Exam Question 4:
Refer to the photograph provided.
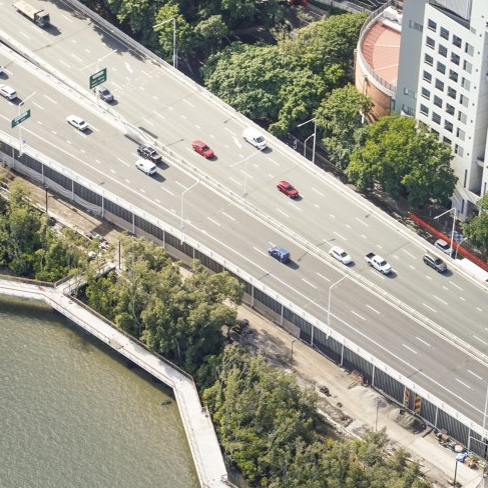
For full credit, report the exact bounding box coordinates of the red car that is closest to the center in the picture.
[277,182,301,198]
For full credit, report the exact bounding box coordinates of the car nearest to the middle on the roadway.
[269,248,292,264]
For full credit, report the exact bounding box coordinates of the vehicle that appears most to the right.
[458,255,488,280]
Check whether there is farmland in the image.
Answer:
No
